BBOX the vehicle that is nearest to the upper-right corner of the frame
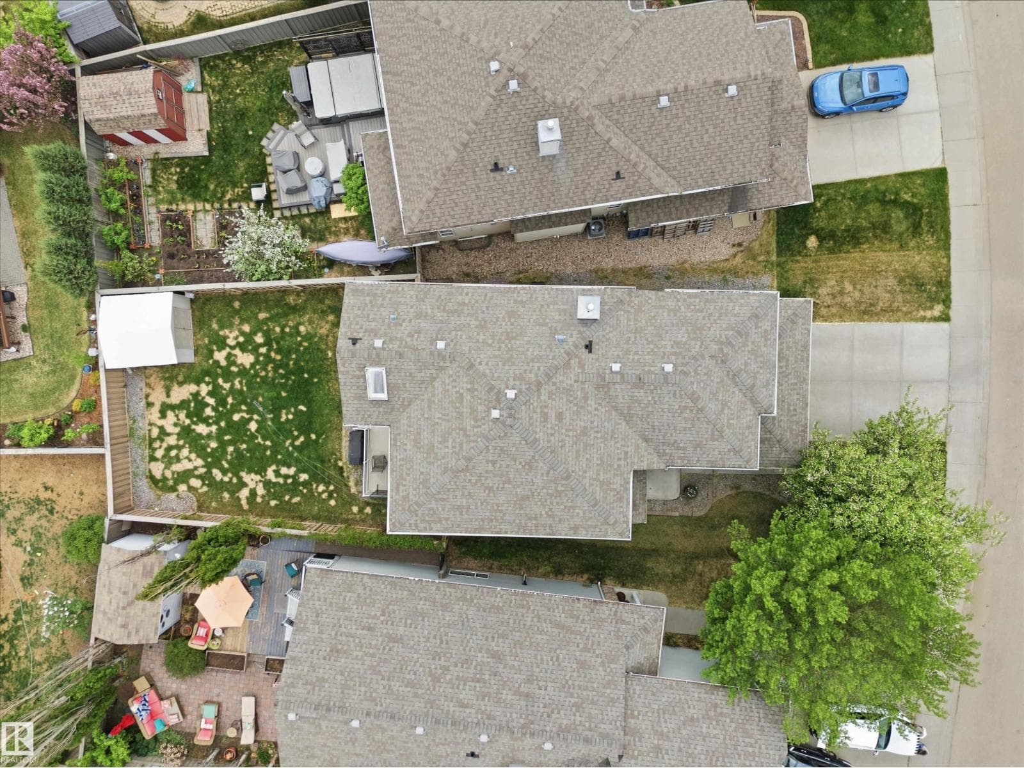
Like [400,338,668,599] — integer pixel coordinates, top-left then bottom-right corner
[807,59,913,117]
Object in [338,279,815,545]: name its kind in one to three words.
house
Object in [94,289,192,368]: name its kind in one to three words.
shed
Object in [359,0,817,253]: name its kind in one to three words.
house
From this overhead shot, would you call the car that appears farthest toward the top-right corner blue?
Yes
